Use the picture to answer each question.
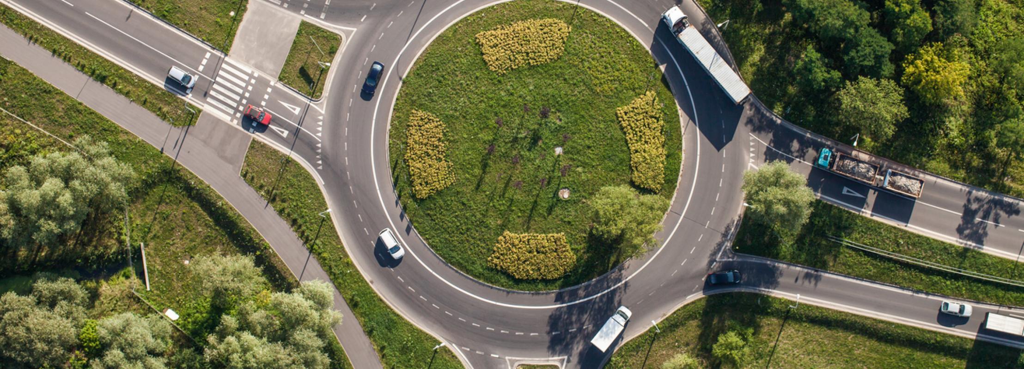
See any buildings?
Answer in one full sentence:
No, there appears to be no building in this shot.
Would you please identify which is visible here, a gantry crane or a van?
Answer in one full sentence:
Looking from above, you can make out a van.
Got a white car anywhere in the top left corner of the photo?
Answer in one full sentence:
Yes, looking in the top left corner of the photo, one can make out a white car.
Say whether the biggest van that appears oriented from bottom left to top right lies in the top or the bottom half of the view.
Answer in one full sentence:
The biggest van that appears oriented from bottom left to top right is in the bottom half of the image.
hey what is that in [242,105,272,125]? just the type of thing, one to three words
car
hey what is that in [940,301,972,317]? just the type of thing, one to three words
car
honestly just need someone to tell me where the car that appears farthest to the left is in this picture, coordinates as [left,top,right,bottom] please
[166,65,197,88]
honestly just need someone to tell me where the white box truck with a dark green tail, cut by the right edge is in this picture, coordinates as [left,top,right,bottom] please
[982,313,1024,337]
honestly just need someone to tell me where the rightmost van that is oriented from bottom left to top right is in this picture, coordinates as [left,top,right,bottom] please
[590,305,632,352]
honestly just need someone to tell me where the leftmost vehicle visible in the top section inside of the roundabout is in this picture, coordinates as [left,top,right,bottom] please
[362,60,384,95]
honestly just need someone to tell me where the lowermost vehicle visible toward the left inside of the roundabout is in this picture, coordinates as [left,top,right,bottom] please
[379,228,404,259]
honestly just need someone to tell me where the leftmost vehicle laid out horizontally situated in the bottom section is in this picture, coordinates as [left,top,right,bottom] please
[707,270,741,285]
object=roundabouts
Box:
[327,0,745,355]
